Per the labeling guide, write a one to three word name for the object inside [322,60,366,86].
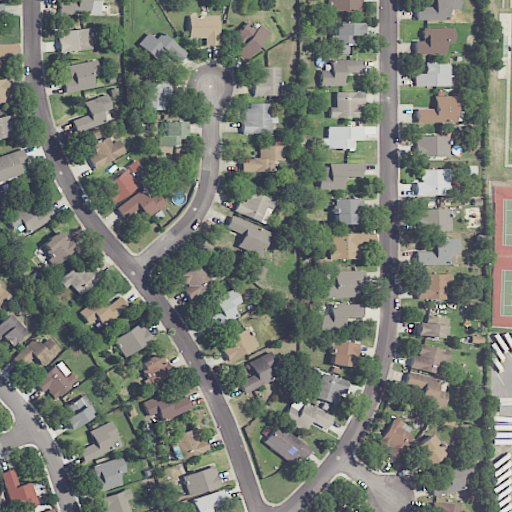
house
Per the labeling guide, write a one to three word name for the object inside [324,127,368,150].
house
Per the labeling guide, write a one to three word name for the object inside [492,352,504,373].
vehicle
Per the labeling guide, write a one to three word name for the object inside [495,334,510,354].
vehicle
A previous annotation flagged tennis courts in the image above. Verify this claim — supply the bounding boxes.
[494,186,512,256]
[492,256,512,326]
